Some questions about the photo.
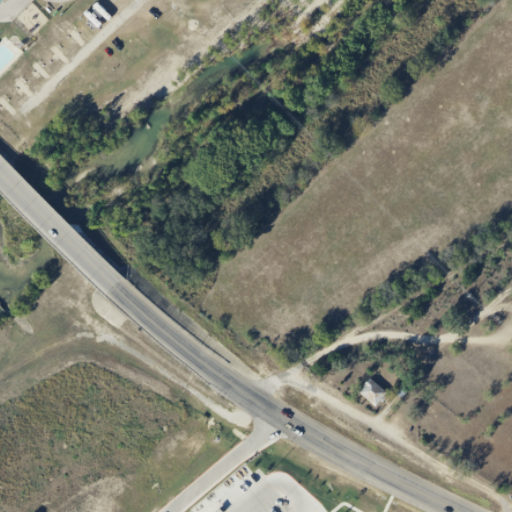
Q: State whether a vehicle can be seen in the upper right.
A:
No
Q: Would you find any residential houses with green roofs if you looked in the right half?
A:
No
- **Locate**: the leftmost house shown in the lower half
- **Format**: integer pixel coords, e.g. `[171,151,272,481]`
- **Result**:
[361,380,386,405]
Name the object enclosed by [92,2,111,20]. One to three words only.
vehicle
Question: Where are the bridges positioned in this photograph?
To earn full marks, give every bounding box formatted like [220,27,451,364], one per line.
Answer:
[0,155,122,296]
